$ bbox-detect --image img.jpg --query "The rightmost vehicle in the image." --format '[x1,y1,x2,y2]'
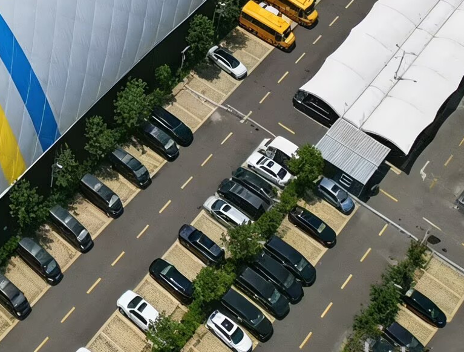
[399,288,450,332]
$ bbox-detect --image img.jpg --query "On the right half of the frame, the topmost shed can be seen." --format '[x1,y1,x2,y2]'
[316,117,391,196]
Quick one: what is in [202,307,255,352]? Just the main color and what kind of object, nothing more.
white car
